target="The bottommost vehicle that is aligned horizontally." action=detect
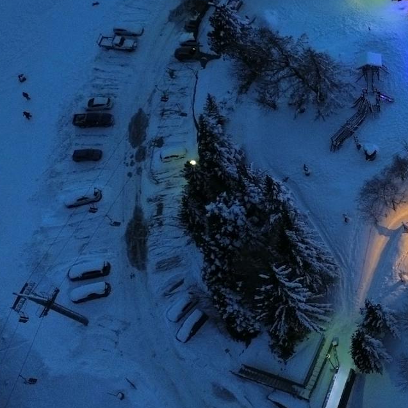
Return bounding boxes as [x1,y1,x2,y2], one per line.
[63,282,109,305]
